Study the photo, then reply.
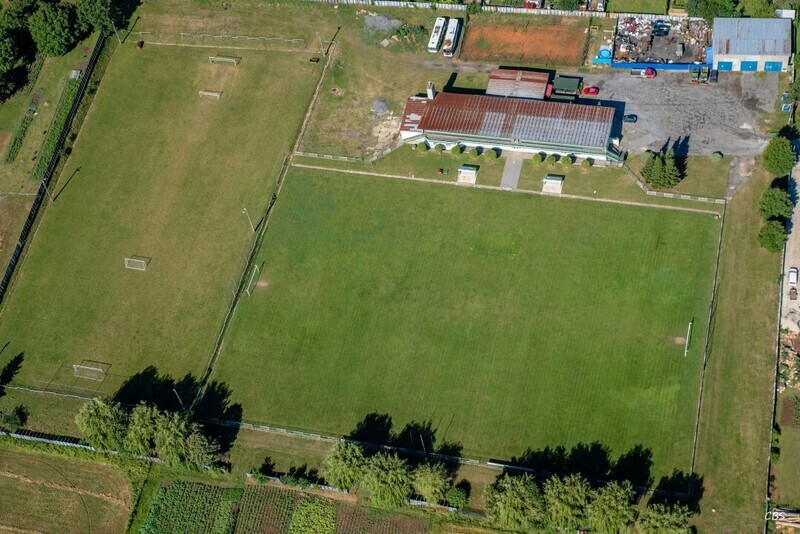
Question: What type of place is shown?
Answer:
sports ground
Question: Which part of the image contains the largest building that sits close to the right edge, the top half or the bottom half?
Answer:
top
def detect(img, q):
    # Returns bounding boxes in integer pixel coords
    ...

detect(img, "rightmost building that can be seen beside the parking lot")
[713,18,791,72]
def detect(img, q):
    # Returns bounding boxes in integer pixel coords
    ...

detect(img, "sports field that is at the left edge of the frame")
[0,41,317,410]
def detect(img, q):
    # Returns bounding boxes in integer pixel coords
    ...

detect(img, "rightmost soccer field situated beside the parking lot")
[192,152,722,493]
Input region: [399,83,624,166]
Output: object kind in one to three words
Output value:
building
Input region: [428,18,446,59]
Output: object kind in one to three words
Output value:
vehicle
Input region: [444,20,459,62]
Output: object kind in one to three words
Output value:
vehicle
